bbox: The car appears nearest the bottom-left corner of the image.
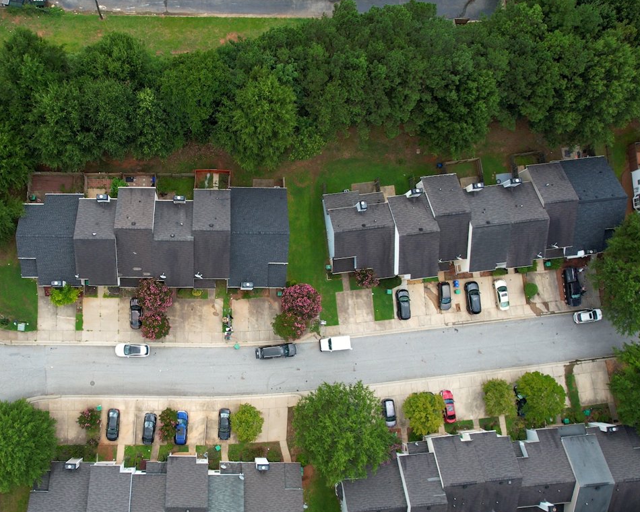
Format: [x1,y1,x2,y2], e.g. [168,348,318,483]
[105,407,121,442]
